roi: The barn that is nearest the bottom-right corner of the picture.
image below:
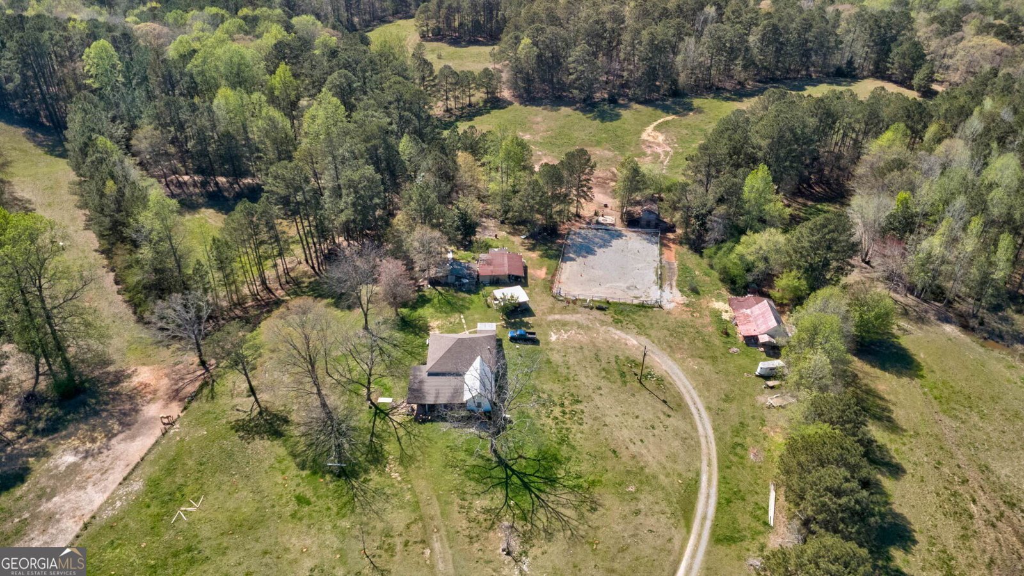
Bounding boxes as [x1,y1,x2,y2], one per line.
[727,297,787,349]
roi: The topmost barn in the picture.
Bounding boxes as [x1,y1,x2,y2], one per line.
[624,196,676,229]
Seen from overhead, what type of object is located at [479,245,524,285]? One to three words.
shed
